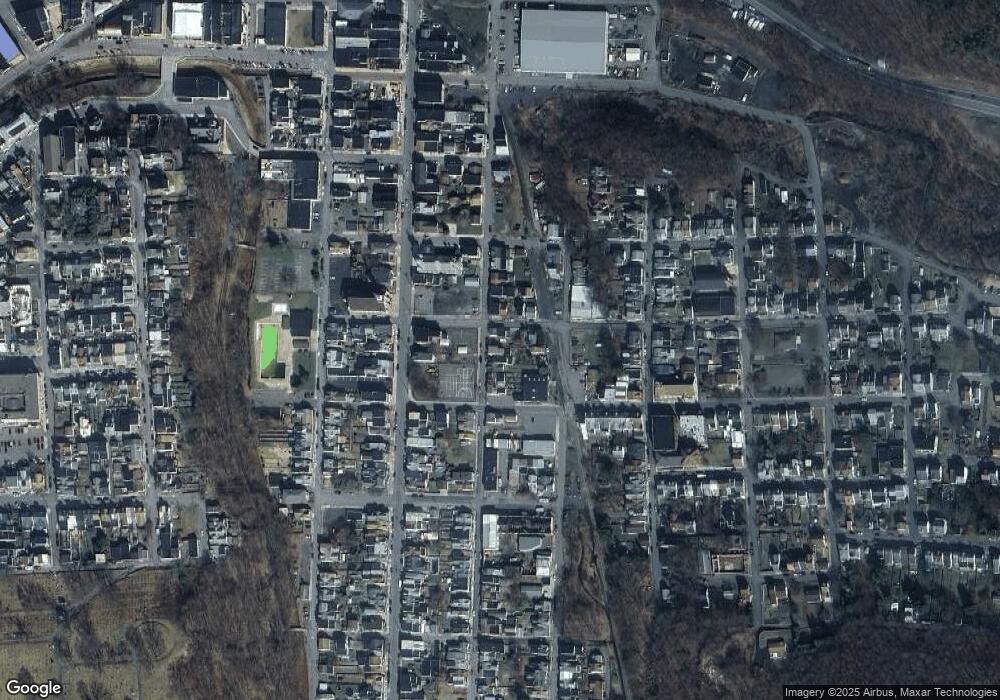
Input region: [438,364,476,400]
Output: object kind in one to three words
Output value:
sports court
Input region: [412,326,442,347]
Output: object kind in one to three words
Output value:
building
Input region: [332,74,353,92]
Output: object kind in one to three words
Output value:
house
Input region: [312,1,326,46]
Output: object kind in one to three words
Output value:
building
